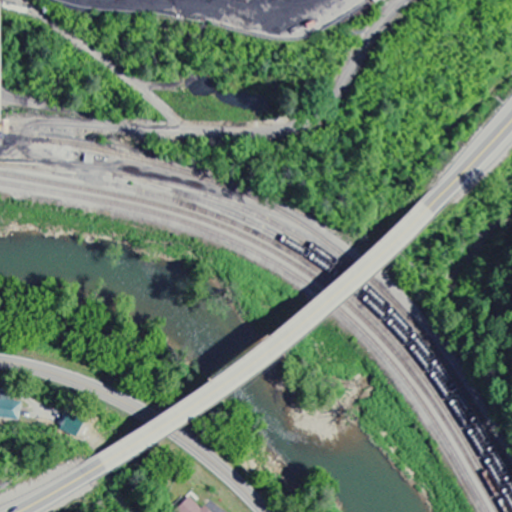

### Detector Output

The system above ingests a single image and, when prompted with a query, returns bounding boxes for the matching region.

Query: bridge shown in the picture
[88,189,448,480]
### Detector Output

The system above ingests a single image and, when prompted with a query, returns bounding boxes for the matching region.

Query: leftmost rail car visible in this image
[278,234,308,254]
